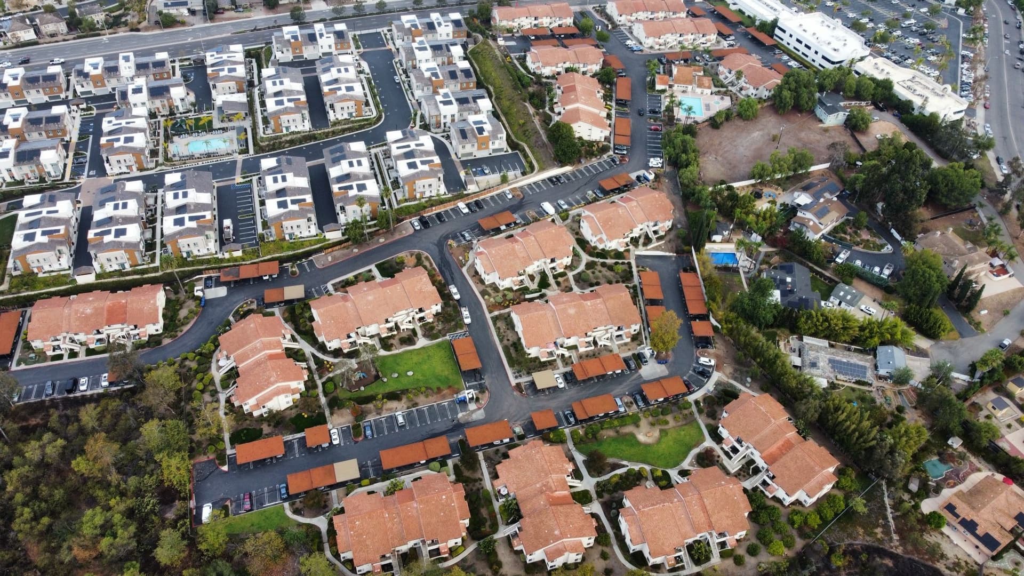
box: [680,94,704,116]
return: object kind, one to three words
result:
swimming pool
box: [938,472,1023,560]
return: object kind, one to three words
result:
house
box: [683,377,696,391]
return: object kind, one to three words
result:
vehicle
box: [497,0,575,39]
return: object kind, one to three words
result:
building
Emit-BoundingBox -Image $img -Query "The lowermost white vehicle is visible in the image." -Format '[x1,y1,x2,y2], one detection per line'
[199,501,211,523]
